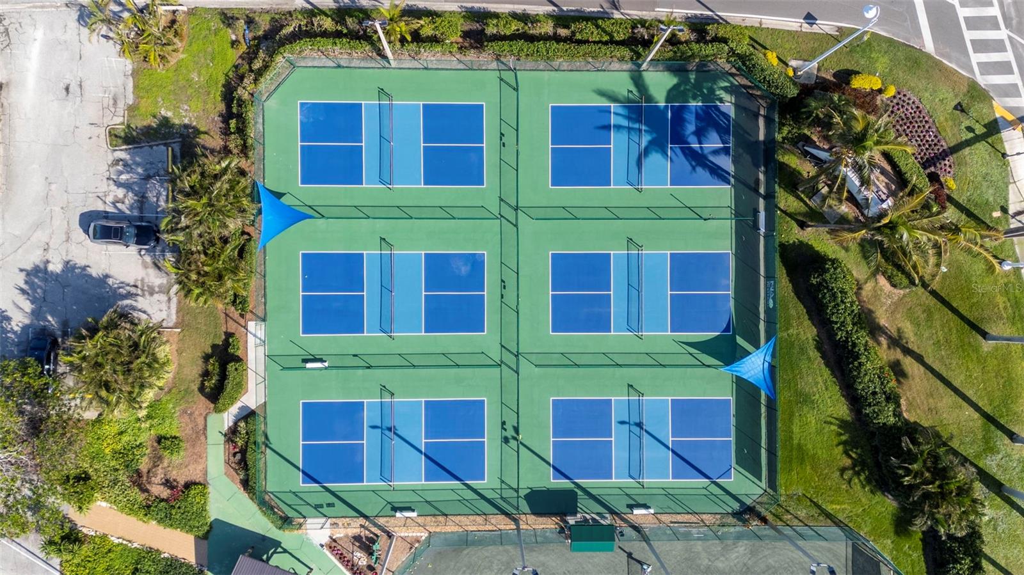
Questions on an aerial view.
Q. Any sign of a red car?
No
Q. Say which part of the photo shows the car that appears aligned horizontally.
left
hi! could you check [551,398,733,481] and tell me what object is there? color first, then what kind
blue sports court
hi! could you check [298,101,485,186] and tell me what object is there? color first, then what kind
blue sports court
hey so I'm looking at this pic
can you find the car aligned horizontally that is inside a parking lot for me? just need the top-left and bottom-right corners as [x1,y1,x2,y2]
[82,218,157,249]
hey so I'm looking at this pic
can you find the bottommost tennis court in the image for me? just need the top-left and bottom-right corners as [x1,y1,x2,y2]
[392,529,895,575]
